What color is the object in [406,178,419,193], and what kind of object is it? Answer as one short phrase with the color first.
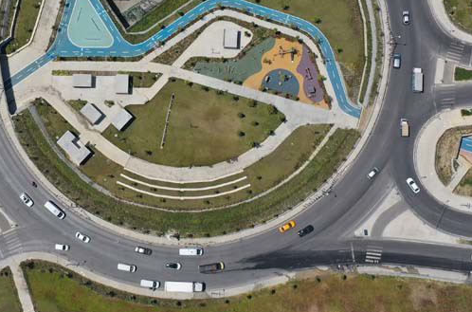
white vehicle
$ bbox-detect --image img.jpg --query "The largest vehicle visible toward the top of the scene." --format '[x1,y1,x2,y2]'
[411,68,423,92]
